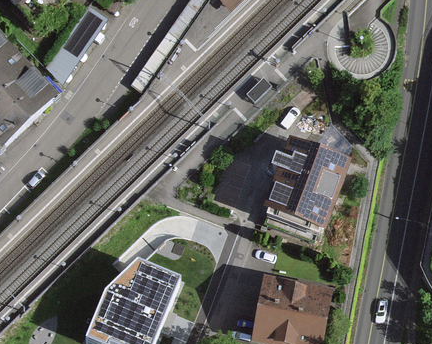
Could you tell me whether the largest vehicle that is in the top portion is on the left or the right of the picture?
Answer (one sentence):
You can find the largest vehicle that is in the top portion on the right side of the picture.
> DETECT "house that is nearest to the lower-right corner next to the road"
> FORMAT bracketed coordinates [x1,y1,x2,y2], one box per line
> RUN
[252,273,335,344]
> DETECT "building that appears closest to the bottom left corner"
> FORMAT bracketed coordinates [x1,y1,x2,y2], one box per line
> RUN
[86,258,182,344]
